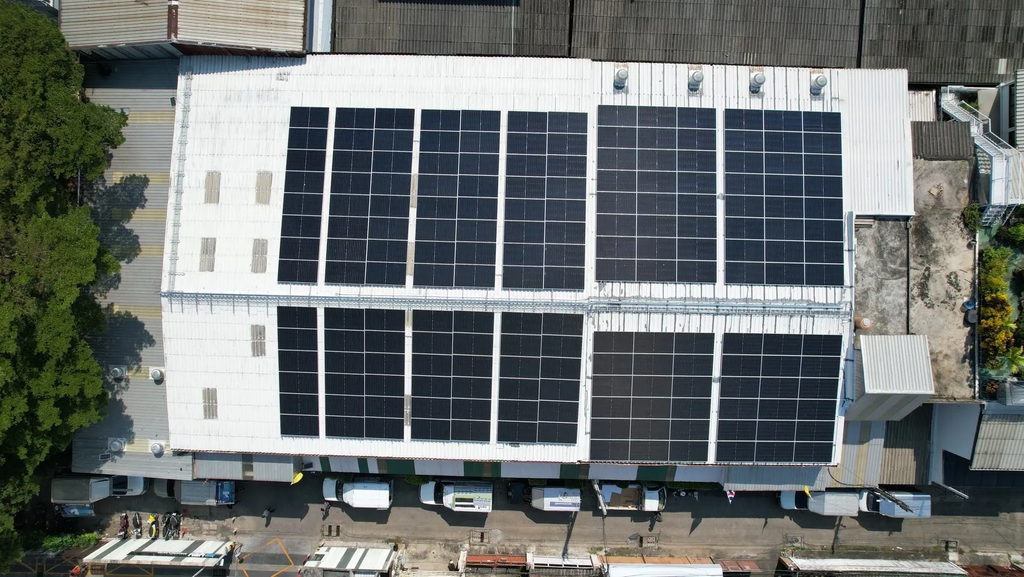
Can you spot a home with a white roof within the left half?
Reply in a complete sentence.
Yes, within the left half there is a home with a white roof.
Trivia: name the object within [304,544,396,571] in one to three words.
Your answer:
house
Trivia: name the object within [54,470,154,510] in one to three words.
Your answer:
truck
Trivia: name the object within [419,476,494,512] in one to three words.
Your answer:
truck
